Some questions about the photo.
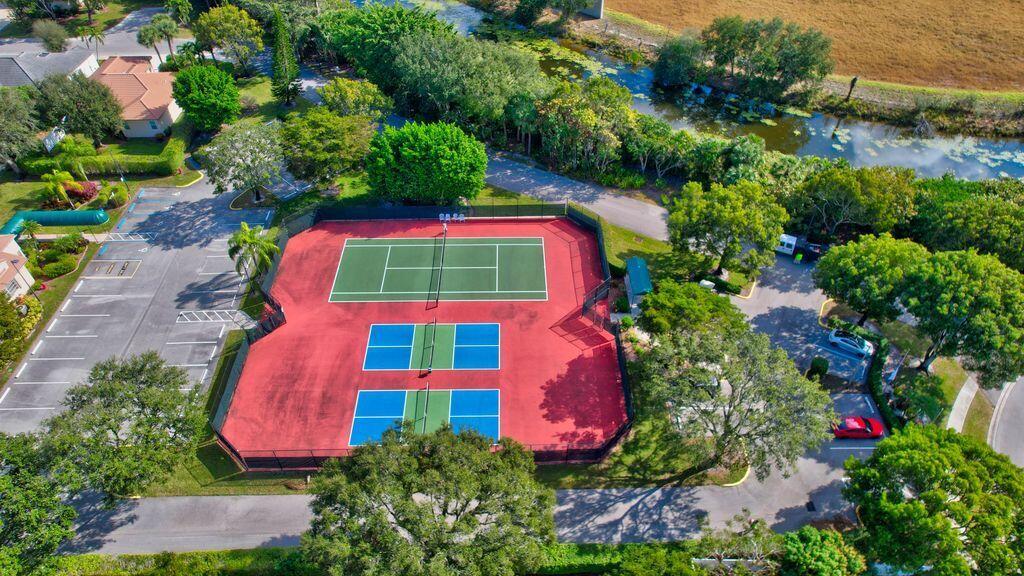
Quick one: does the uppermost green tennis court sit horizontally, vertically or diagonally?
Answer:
horizontally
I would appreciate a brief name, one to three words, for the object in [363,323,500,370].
sports court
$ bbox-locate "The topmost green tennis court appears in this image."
[329,237,548,301]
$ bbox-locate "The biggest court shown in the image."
[217,215,631,471]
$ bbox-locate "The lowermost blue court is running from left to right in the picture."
[348,389,500,446]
